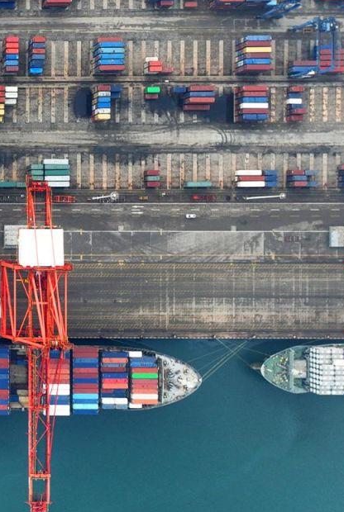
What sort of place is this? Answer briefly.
port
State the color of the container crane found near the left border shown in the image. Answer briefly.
red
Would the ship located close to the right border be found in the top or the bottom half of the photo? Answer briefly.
bottom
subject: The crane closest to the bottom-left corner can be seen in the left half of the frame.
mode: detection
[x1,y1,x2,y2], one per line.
[0,181,74,512]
